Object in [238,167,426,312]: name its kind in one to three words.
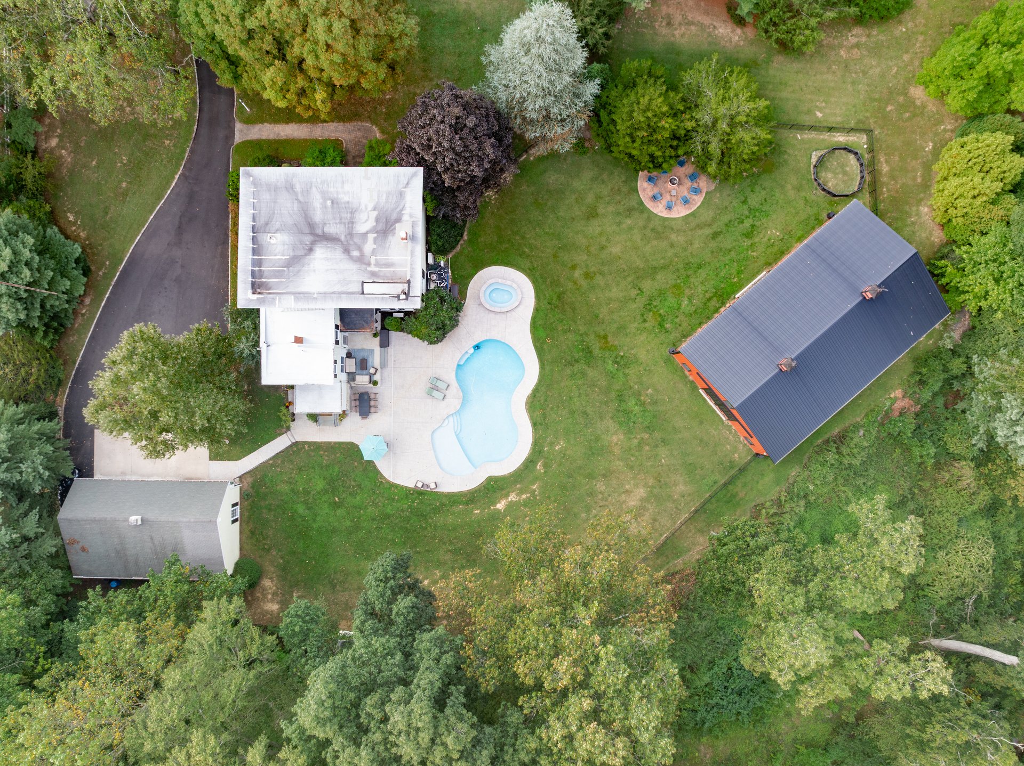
house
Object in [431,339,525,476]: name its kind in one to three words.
swimming pool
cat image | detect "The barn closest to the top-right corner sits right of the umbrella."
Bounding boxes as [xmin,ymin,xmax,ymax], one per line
[670,197,953,464]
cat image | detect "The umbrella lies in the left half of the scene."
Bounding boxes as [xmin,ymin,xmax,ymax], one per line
[361,434,389,462]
